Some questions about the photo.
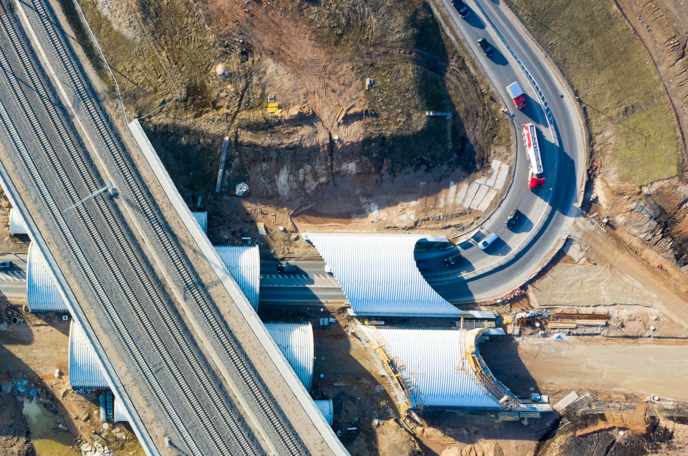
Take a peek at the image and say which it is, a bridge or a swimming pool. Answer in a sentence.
The image shows a bridge.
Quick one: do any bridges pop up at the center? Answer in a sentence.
Yes, a bridge appears at the center.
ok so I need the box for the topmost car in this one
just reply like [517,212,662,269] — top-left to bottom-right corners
[452,0,467,18]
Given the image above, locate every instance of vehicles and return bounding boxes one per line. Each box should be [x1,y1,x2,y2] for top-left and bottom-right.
[505,79,530,114]
[0,262,12,269]
[452,0,467,18]
[276,265,299,273]
[415,262,434,271]
[320,264,332,273]
[504,209,522,229]
[520,123,544,189]
[477,232,499,251]
[478,38,492,58]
